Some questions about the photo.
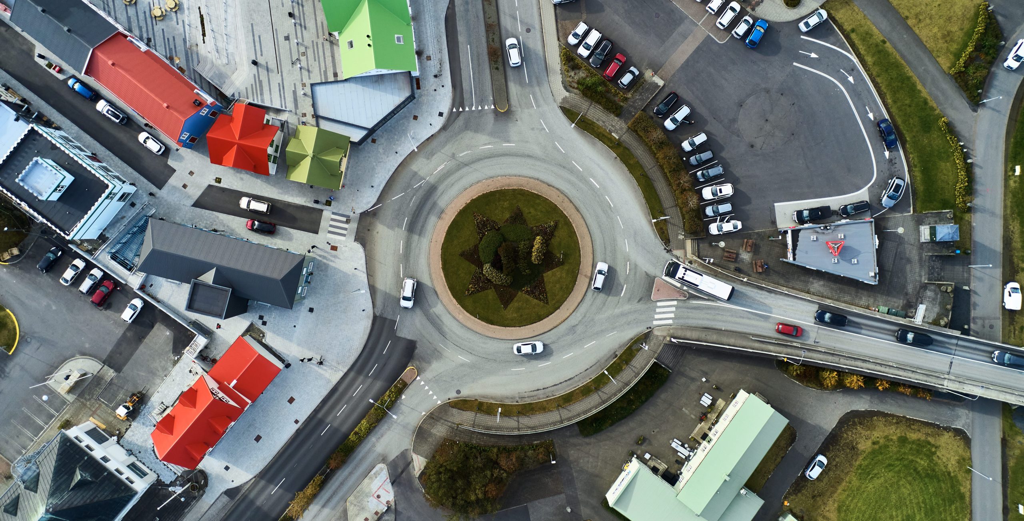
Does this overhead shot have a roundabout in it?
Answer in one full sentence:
Yes, a roundabout is visible in the scene.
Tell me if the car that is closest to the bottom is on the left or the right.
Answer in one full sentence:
You can find the car that is closest to the bottom on the right side of the picture.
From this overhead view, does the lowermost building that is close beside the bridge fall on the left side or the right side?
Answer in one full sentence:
The lowermost building that is close beside the bridge appears in the right half of the scene.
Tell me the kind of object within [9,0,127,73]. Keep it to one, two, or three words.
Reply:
house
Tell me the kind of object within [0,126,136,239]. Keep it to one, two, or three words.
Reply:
building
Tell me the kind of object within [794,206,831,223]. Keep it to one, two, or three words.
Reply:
vehicle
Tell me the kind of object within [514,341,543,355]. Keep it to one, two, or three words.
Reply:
car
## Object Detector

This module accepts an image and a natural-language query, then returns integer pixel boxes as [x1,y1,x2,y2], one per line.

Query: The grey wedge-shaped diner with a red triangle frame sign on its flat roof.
[776,217,880,286]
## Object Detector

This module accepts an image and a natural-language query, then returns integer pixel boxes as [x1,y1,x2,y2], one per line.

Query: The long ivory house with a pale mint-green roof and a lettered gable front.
[606,389,789,521]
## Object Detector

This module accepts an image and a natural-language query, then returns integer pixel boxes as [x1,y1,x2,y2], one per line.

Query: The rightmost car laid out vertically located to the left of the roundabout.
[401,278,415,307]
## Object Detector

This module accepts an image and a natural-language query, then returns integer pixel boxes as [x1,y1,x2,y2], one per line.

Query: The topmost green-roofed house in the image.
[322,0,419,79]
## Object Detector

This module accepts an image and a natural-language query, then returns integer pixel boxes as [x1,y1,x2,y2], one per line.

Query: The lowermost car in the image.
[805,454,826,480]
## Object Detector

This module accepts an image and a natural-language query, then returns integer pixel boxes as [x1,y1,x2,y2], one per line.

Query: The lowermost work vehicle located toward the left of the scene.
[115,389,149,419]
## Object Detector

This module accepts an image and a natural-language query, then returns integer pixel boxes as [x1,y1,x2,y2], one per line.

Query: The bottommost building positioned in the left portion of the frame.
[0,411,165,521]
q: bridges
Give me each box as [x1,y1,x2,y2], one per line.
[653,253,1024,406]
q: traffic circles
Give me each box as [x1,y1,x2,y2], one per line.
[428,175,594,340]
